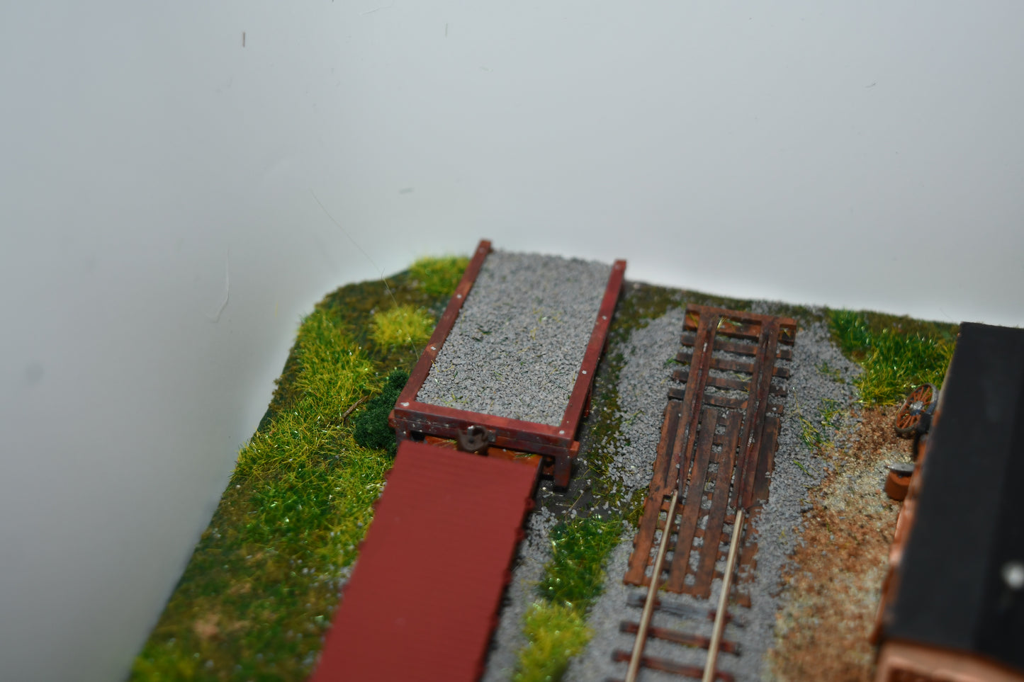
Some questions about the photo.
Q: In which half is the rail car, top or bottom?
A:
bottom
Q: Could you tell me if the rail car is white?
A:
No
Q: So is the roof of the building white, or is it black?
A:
black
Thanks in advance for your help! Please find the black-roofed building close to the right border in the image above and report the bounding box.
[869,324,1024,682]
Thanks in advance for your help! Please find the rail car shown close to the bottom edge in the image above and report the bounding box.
[310,425,540,682]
